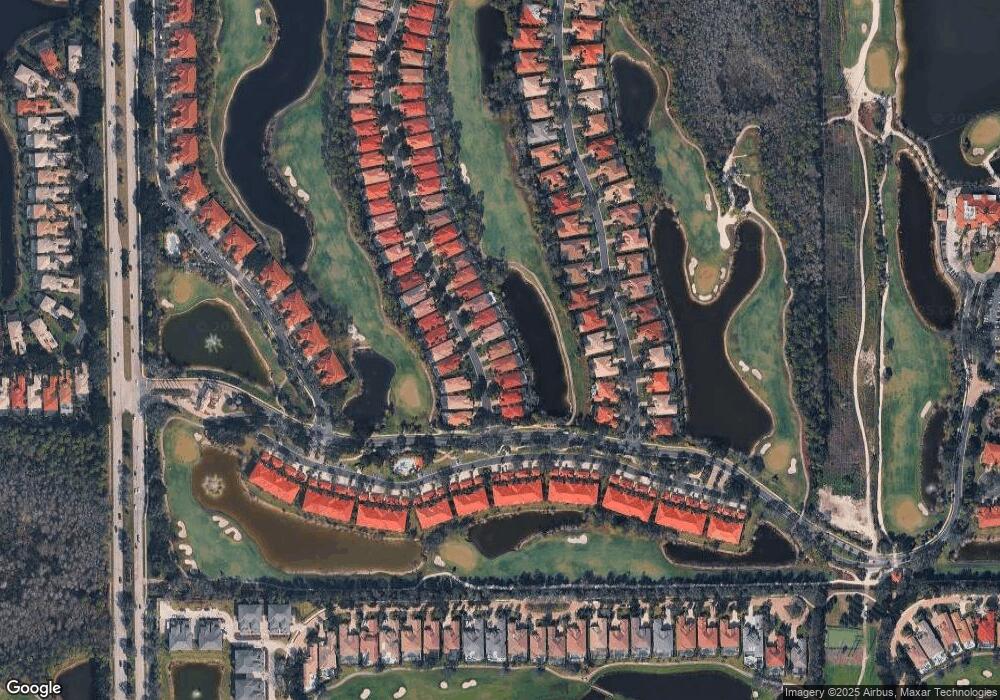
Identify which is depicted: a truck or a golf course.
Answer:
golf course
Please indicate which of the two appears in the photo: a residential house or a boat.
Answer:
residential house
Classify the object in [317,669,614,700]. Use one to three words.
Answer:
golf course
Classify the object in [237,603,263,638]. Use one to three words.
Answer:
building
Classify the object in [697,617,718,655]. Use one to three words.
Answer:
house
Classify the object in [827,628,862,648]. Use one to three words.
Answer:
sports court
